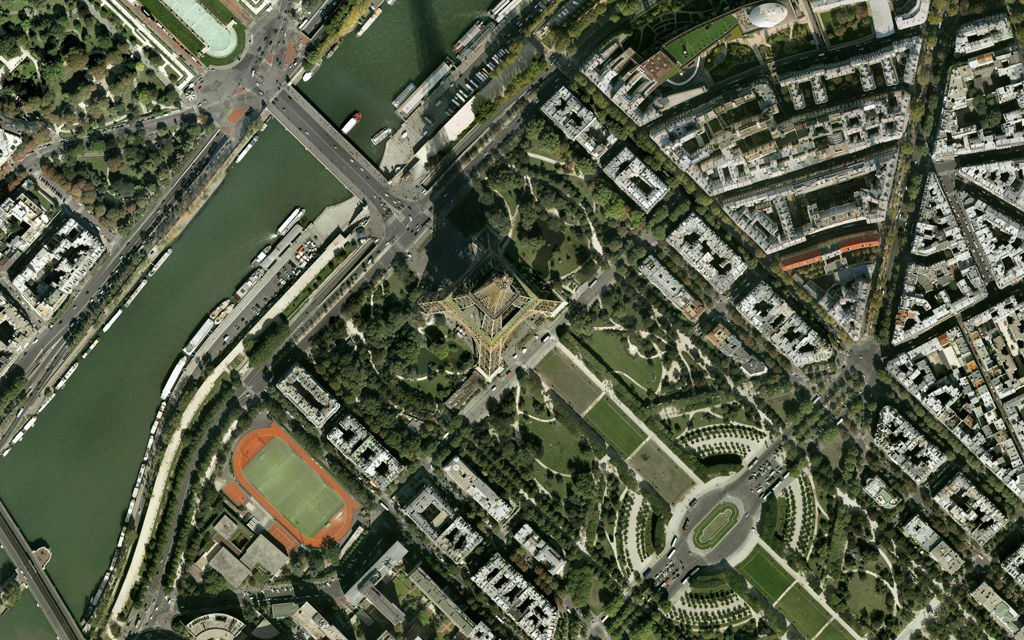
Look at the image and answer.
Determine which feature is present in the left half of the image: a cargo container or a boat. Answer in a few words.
boat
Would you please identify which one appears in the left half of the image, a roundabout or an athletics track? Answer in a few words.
athletics track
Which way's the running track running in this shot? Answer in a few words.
diagonally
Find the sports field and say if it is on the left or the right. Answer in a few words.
left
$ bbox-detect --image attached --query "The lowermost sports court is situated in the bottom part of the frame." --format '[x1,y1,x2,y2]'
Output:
[267,521,301,556]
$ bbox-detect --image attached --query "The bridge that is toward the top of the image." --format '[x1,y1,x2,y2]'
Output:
[264,82,394,208]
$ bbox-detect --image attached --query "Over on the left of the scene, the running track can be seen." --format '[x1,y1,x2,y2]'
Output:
[233,422,361,548]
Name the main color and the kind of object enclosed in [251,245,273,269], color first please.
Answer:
white boat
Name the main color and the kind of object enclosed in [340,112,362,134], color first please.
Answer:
white boat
